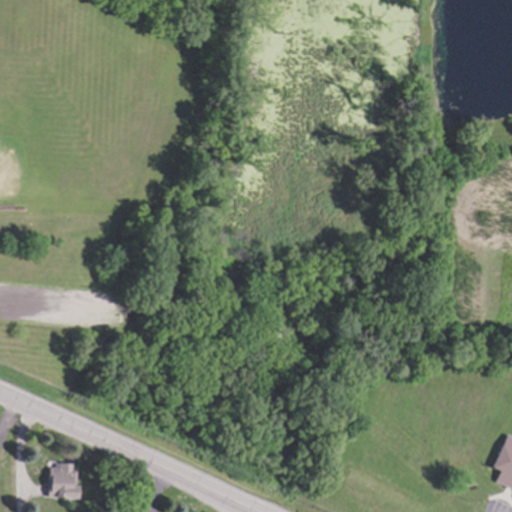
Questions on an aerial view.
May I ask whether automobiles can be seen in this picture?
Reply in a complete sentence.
No, there is no automobile in the image.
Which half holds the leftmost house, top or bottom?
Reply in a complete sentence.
The leftmost house sits in the bottom half of the picture.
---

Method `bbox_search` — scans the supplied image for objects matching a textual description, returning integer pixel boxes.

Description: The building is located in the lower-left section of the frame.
[47,462,82,501]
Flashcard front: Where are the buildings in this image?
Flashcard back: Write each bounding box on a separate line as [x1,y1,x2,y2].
[47,462,82,501]
[494,435,512,492]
